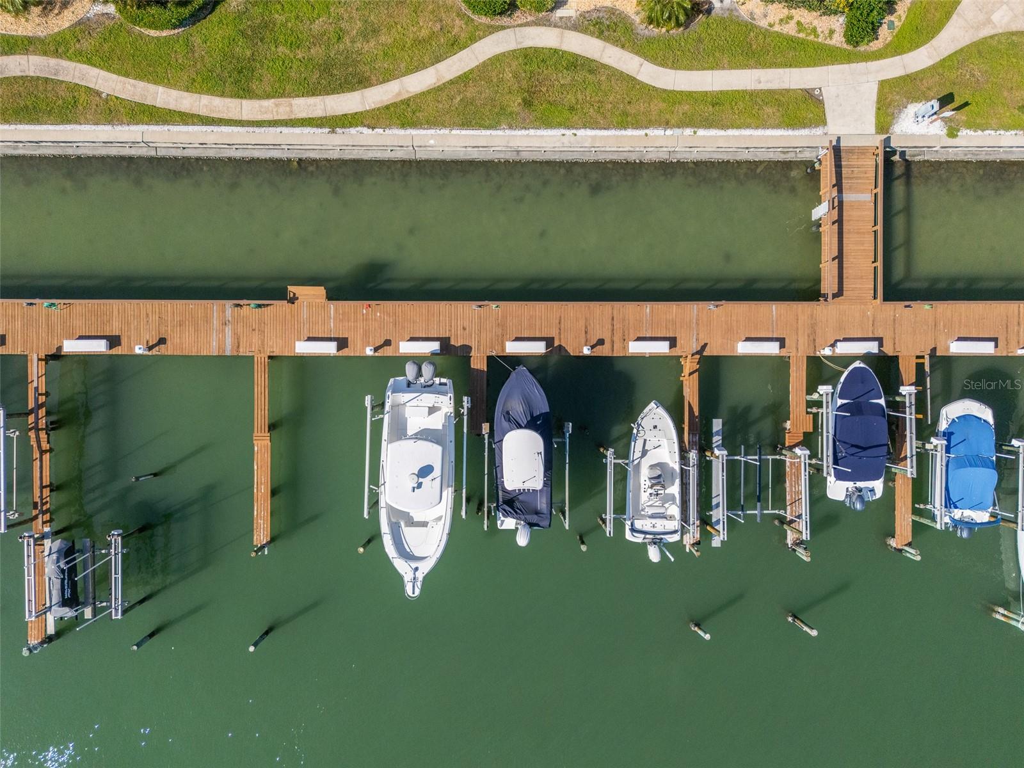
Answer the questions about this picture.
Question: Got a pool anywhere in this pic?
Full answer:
No, there isn't any pool down there.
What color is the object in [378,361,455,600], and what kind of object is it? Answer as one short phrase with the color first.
white boat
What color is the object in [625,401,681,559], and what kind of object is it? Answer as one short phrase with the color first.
white boat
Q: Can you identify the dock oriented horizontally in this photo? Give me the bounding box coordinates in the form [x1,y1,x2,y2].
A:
[0,299,1024,356]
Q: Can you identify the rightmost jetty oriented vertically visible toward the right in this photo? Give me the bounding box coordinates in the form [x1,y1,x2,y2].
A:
[877,354,932,547]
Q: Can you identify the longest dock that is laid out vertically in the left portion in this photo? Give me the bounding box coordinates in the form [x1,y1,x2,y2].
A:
[28,353,65,643]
